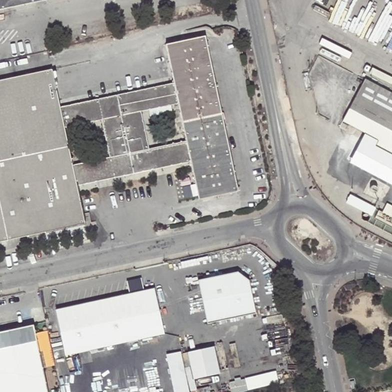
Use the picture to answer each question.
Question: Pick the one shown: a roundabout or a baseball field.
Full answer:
This aerial view contains a roundabout.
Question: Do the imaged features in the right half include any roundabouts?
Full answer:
Yes, a roundabout shows up in the right half.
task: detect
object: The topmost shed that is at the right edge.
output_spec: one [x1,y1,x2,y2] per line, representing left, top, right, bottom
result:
[349,77,392,130]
